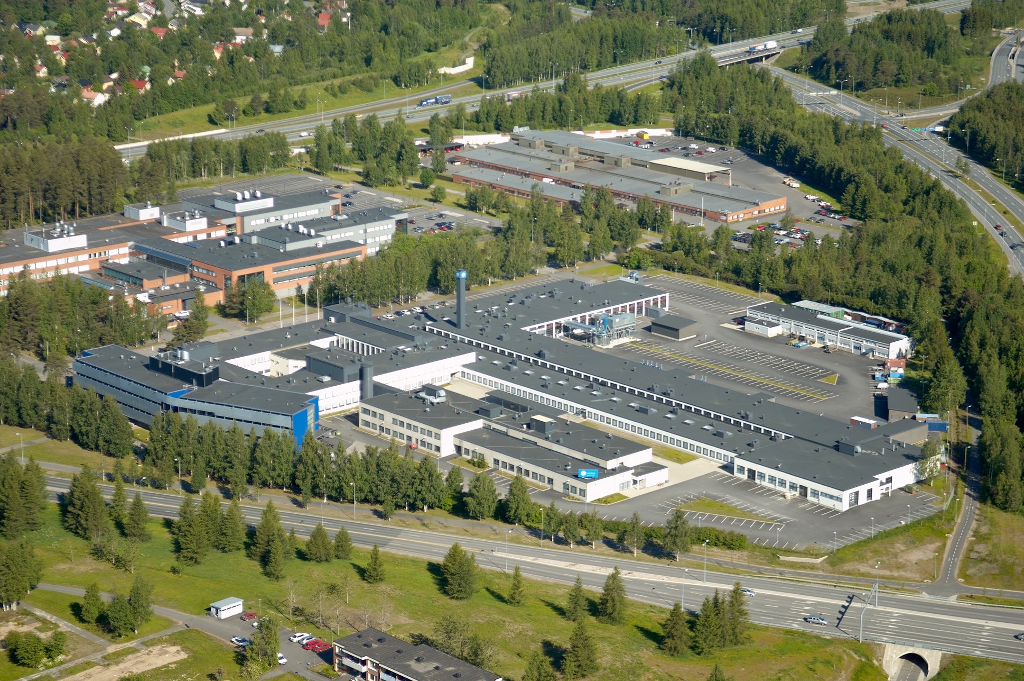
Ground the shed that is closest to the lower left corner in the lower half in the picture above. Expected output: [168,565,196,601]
[209,595,242,619]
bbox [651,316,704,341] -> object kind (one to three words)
building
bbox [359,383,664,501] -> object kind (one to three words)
building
